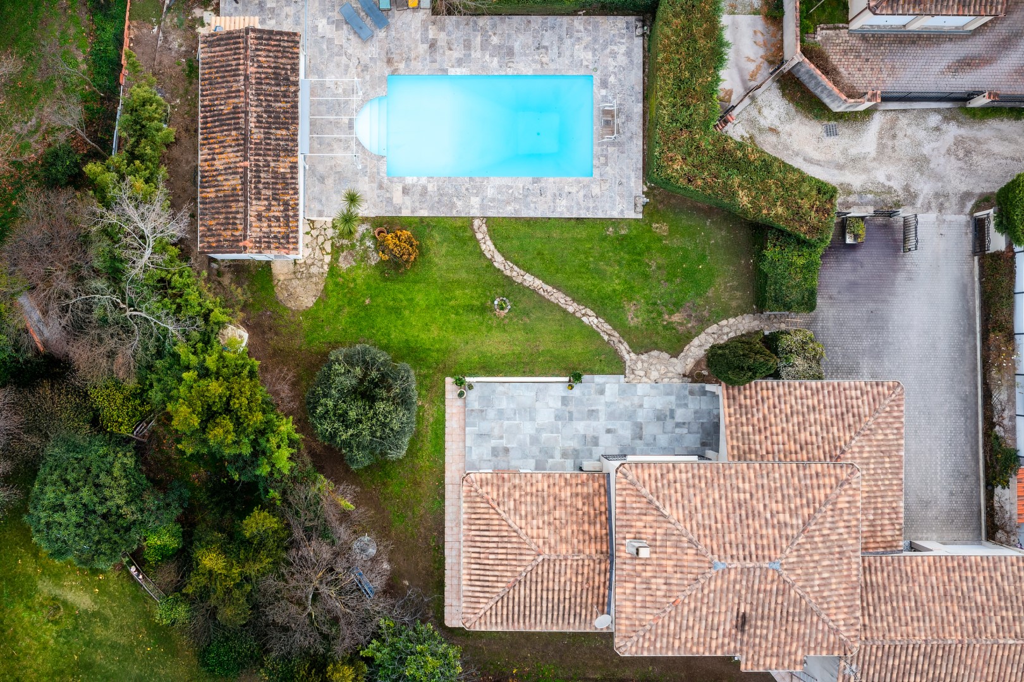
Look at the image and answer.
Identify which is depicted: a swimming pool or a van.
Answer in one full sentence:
Visible in the photo is a swimming pool.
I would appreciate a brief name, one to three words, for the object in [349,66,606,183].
swimming pool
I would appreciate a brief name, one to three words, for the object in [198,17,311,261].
building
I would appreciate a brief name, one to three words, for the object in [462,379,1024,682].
house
